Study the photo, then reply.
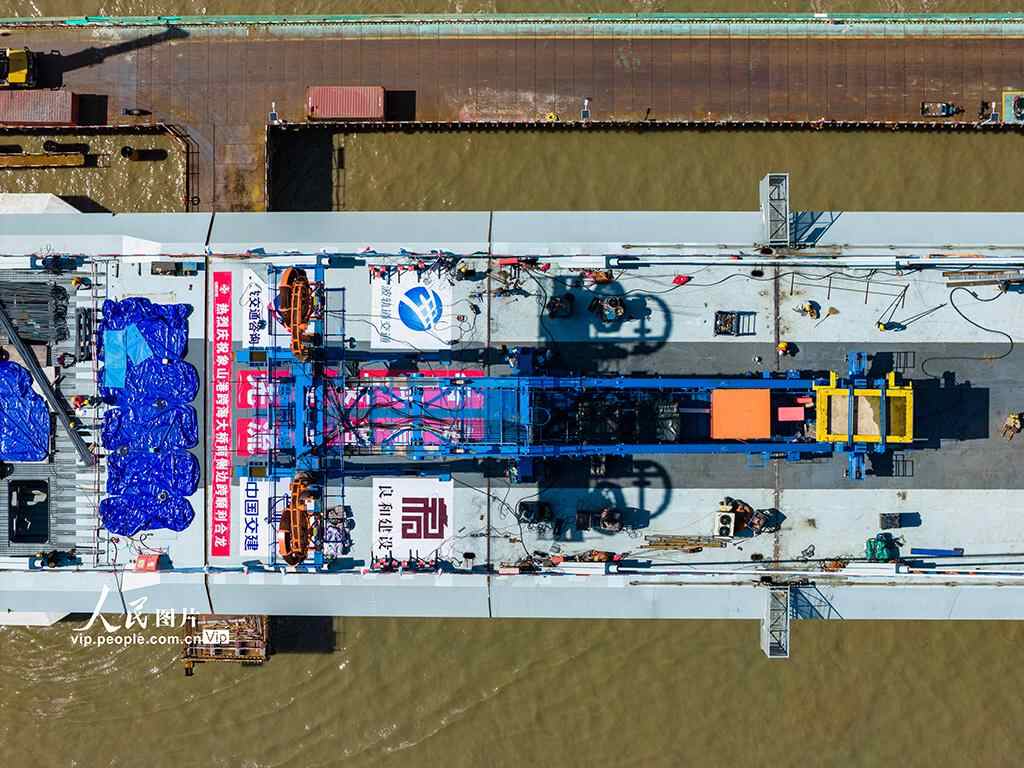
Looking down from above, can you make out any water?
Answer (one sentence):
Yes, the picture does contain water.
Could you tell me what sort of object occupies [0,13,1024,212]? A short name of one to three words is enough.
pier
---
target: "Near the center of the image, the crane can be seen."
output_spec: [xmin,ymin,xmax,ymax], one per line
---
[212,263,913,570]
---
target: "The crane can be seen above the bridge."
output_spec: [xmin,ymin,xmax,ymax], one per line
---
[0,48,46,91]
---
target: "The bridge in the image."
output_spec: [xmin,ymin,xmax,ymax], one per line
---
[0,211,1024,618]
